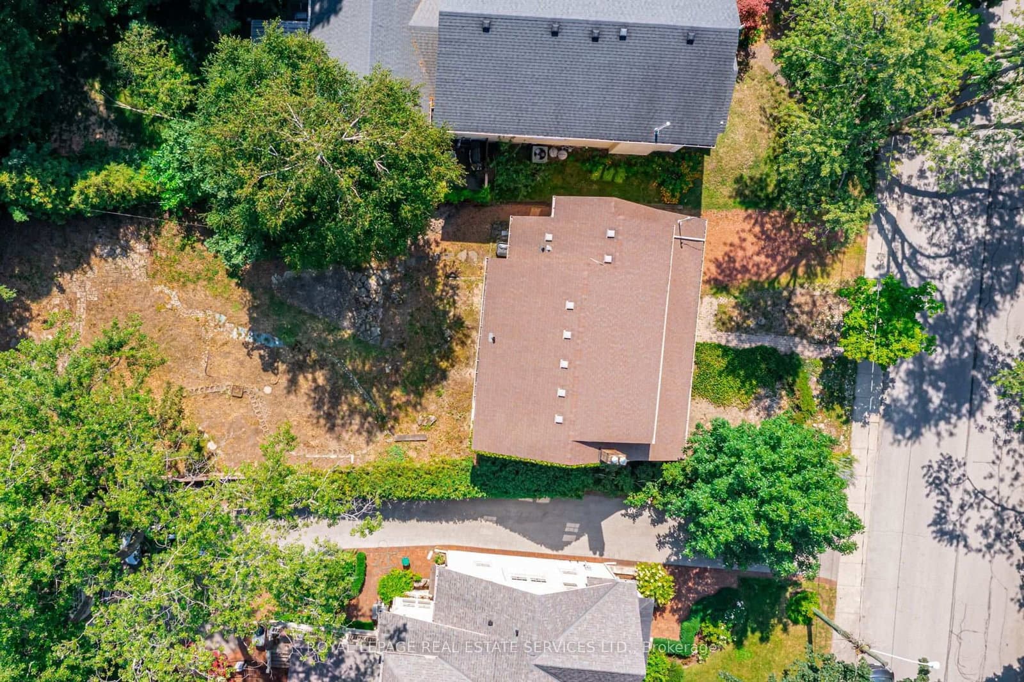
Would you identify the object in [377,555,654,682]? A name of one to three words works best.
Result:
house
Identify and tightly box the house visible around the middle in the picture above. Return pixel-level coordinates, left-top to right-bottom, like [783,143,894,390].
[470,197,709,465]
